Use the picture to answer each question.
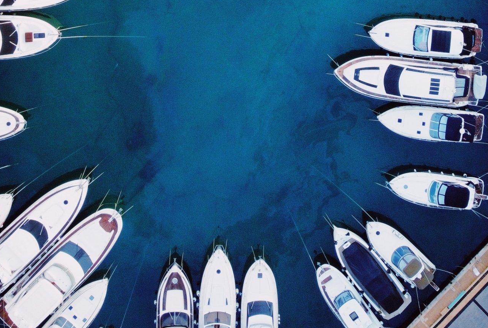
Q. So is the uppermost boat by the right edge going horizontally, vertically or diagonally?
horizontally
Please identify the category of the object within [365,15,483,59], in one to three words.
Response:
boat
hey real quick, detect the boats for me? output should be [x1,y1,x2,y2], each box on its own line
[0,106,30,140]
[197,242,237,328]
[0,191,16,233]
[364,219,434,291]
[373,103,485,147]
[0,12,65,58]
[0,174,93,295]
[241,255,280,328]
[0,208,123,328]
[331,226,411,323]
[314,263,383,328]
[42,275,110,328]
[385,168,488,211]
[475,65,488,106]
[330,55,479,109]
[365,15,483,59]
[156,260,194,328]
